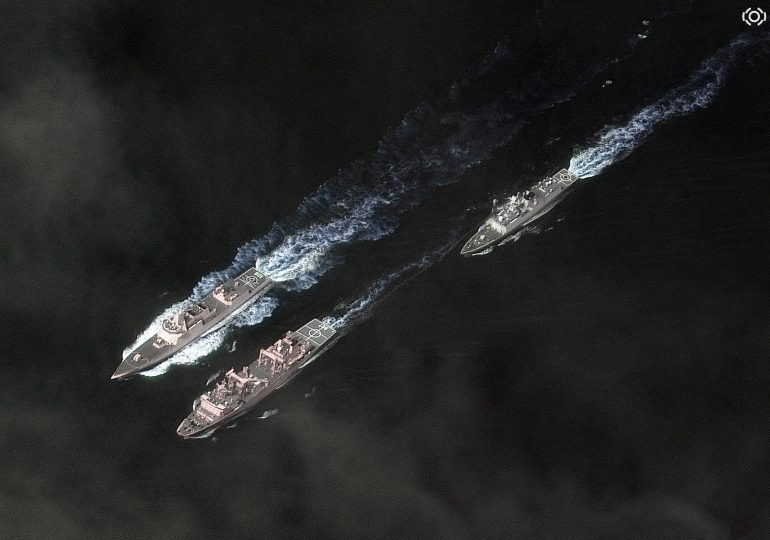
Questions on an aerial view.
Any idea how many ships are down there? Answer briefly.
3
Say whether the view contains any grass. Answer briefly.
No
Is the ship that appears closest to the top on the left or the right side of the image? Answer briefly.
right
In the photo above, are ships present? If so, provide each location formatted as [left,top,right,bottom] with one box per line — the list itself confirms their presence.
[177,319,336,438]
[461,169,578,256]
[111,268,271,381]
